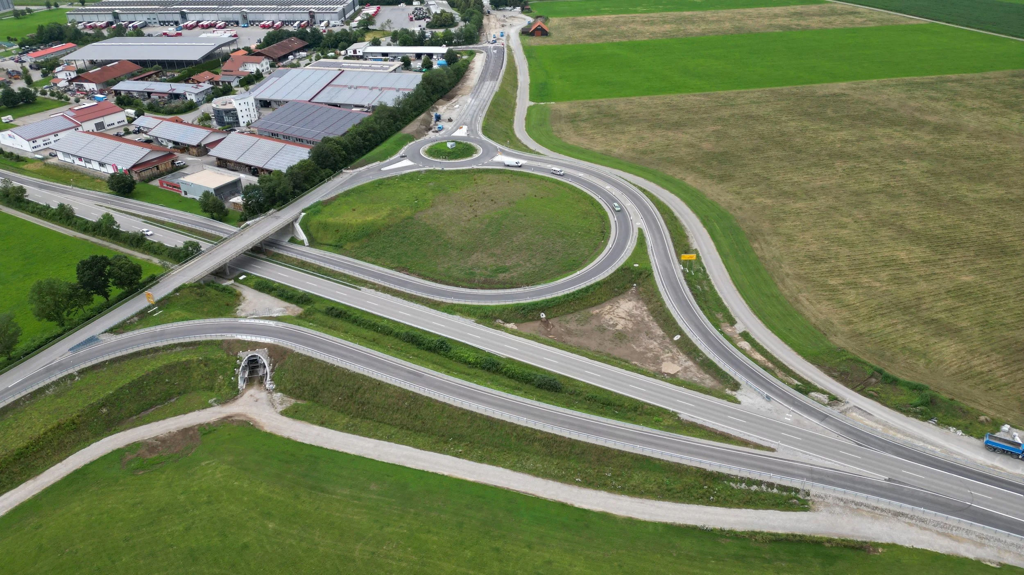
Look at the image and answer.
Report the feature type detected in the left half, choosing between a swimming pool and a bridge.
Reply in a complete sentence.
The feature located in the left half is a bridge.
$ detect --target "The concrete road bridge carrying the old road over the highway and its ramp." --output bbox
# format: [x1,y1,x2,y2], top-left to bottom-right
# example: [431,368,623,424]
[158,201,309,286]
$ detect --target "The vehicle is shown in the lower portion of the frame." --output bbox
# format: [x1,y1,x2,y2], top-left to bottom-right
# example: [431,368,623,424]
[989,434,1024,460]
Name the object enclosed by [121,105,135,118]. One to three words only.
vehicle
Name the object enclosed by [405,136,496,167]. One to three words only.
roundabout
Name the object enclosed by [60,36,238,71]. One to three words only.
building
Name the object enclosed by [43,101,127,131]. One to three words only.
building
